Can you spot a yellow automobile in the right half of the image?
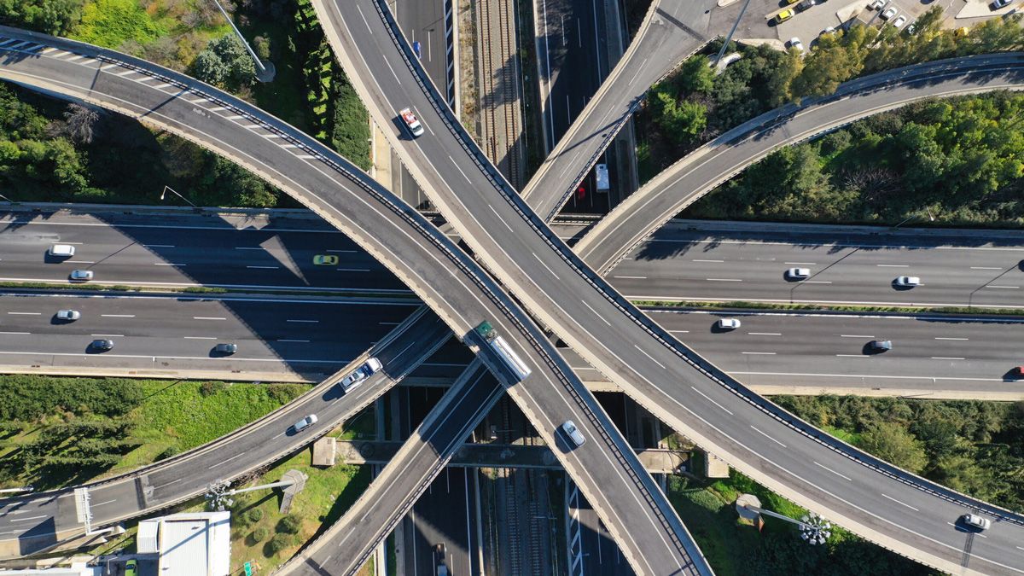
Yes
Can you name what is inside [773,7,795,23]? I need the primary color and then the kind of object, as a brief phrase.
yellow car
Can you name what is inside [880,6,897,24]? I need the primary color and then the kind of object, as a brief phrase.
white car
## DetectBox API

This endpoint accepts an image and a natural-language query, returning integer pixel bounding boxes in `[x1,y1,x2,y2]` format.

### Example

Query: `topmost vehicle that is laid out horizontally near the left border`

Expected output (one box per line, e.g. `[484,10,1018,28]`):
[49,244,75,256]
